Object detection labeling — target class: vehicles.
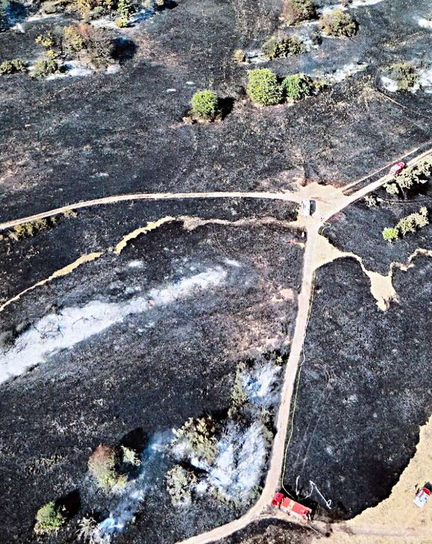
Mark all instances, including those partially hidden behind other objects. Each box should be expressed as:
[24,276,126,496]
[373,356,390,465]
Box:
[304,199,310,215]
[272,493,312,523]
[391,163,405,171]
[413,483,432,506]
